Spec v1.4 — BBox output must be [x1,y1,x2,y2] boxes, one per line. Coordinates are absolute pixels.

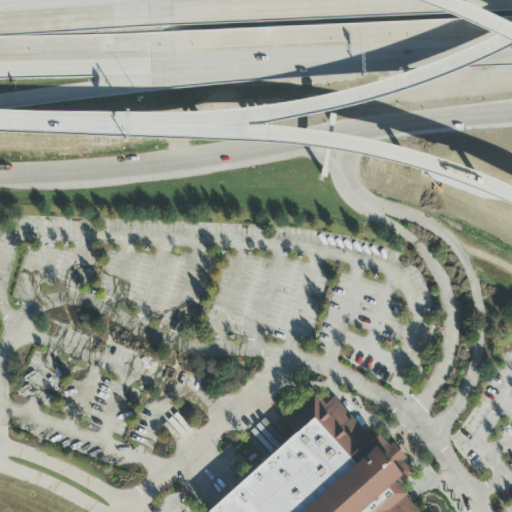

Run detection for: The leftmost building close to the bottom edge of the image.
[207,392,424,512]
